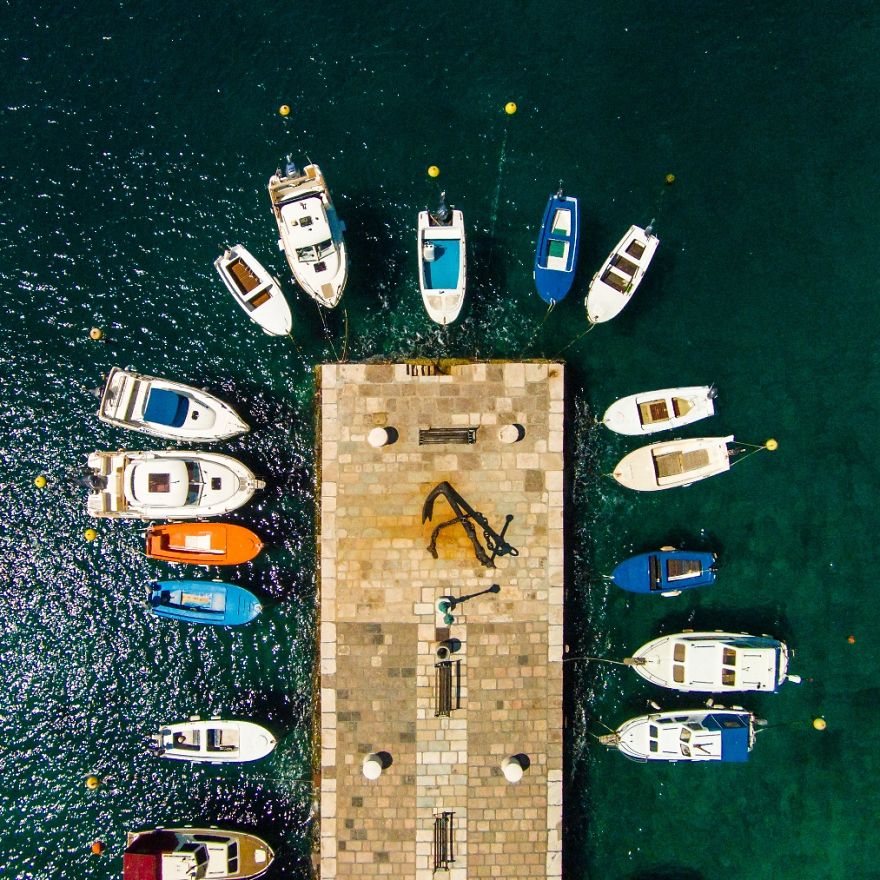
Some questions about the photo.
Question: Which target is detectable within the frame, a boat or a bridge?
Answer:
boat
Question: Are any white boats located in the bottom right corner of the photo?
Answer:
Yes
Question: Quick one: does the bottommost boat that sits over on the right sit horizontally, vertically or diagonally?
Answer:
horizontally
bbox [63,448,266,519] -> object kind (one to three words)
boat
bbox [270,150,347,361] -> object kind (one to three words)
boat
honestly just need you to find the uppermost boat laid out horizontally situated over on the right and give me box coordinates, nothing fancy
[563,384,730,435]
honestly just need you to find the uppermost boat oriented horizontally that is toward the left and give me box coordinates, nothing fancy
[88,368,250,442]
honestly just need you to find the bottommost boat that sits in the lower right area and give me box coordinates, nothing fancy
[565,700,814,765]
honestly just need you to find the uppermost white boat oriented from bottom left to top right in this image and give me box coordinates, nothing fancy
[558,217,663,361]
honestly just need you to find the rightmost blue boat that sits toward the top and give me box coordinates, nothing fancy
[528,183,580,361]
